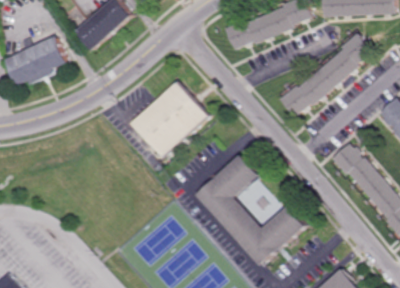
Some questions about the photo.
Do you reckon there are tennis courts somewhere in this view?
Yes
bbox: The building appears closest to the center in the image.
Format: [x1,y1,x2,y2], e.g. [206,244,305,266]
[128,83,208,158]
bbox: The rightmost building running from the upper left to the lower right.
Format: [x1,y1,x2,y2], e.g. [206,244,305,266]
[334,143,400,237]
